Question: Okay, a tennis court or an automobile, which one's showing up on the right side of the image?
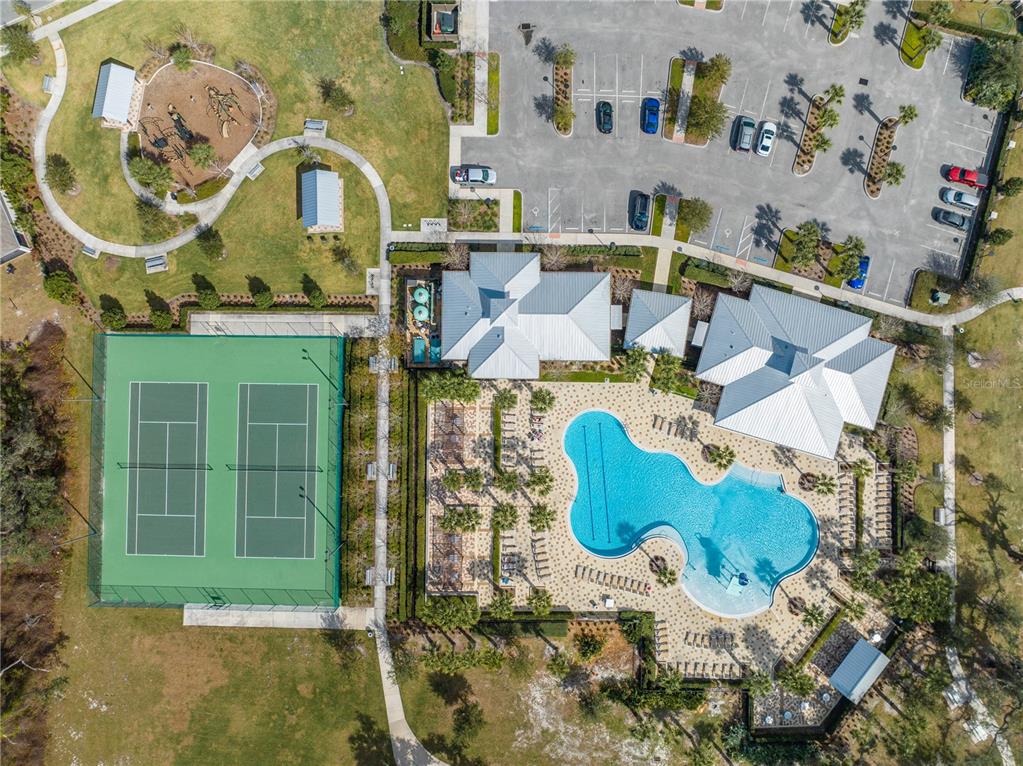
automobile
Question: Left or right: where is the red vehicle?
right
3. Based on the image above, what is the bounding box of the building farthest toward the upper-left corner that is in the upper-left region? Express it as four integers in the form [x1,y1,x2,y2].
[92,62,144,128]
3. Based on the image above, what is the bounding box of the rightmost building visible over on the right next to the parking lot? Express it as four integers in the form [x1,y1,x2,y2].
[694,285,897,458]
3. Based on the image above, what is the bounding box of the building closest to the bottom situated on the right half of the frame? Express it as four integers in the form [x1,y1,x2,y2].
[822,634,889,702]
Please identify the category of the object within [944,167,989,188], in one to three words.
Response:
vehicle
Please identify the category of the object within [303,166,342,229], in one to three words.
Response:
building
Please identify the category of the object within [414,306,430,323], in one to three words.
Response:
umbrella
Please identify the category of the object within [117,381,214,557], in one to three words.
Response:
tennis court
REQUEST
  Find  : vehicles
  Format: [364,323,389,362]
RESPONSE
[596,100,613,137]
[941,188,981,209]
[734,115,755,155]
[846,256,869,291]
[452,167,497,186]
[931,209,969,231]
[642,99,659,135]
[944,167,989,188]
[632,193,650,231]
[756,122,776,159]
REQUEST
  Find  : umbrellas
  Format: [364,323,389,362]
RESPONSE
[414,288,430,305]
[414,306,430,323]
